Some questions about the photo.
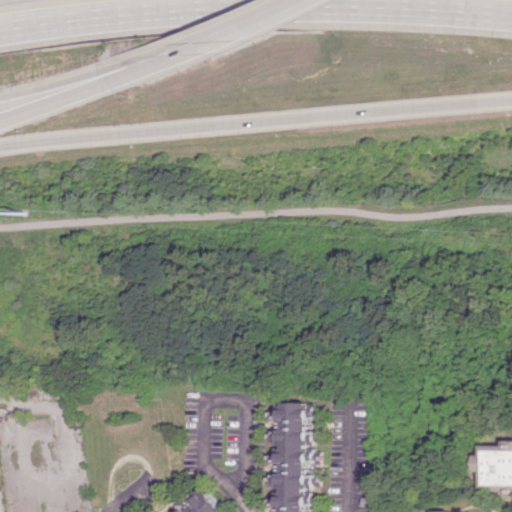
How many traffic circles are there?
0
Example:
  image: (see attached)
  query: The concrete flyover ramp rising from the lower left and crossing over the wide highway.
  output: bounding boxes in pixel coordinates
[0,0,330,135]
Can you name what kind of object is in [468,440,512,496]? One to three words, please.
building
